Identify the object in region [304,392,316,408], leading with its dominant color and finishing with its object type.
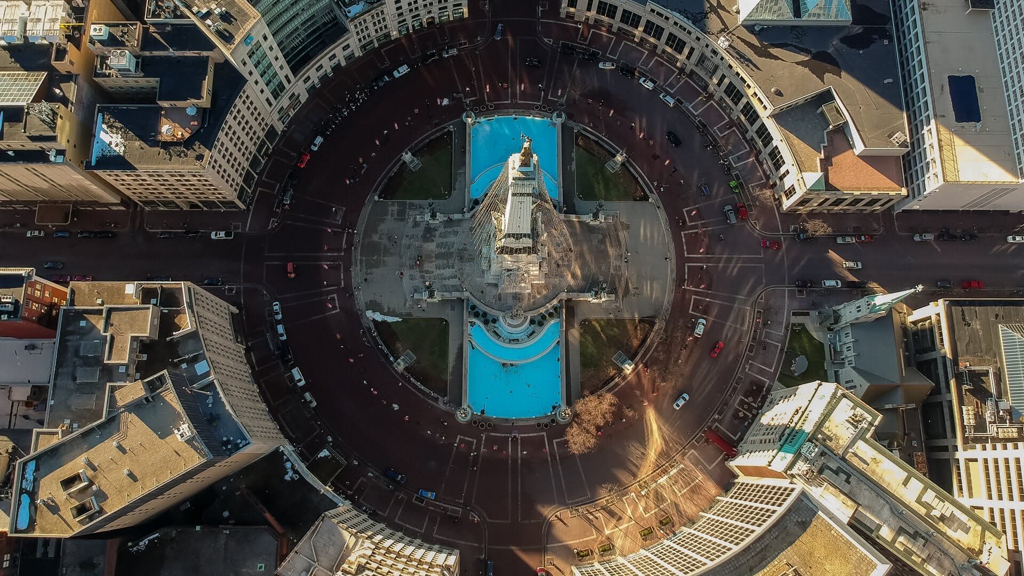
gray vehicle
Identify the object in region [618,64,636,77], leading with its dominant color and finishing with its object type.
black vehicle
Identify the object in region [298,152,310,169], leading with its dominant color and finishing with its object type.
red vehicle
